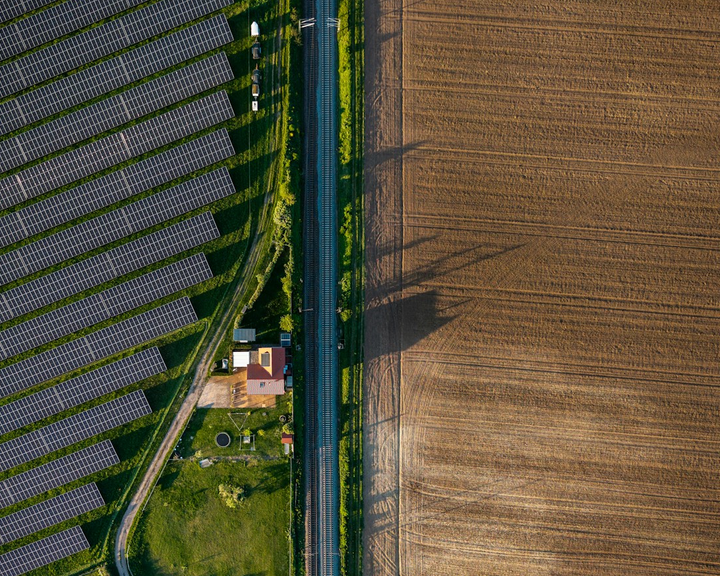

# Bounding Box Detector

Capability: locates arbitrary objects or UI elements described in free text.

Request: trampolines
[215,433,231,449]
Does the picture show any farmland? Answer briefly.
Yes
